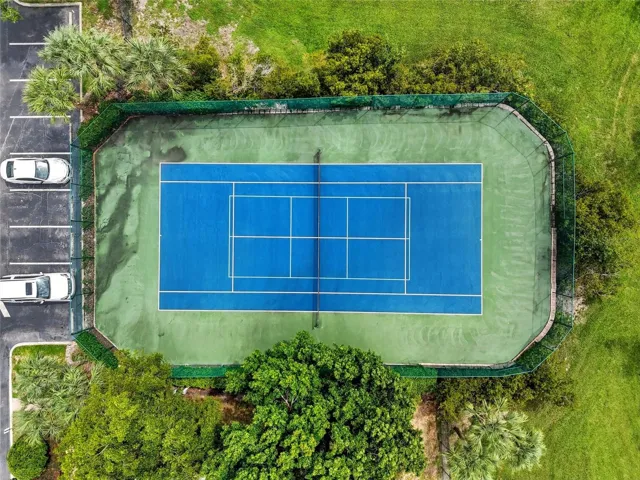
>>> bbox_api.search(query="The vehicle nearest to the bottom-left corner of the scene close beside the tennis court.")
[0,272,79,305]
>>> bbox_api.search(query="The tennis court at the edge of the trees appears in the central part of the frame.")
[94,107,553,365]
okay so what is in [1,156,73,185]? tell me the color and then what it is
white car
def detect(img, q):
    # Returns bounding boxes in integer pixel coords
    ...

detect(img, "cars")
[1,156,73,185]
[0,272,79,305]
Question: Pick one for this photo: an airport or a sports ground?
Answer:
sports ground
